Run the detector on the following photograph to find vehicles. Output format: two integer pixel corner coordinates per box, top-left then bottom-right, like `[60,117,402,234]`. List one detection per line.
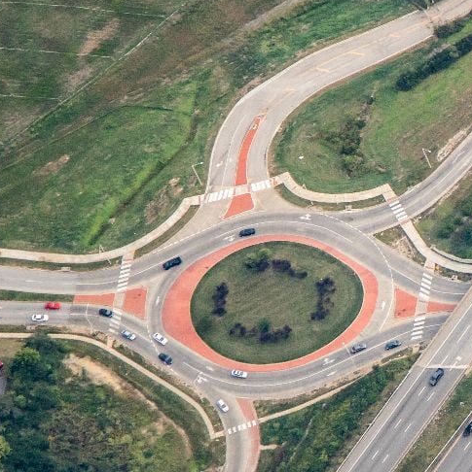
[231,371,246,377]
[164,257,179,268]
[121,329,136,340]
[98,308,113,317]
[157,352,172,364]
[217,399,228,413]
[384,341,400,350]
[239,227,254,236]
[153,333,168,344]
[44,301,60,309]
[350,343,367,352]
[463,422,472,436]
[429,368,445,385]
[32,315,48,322]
